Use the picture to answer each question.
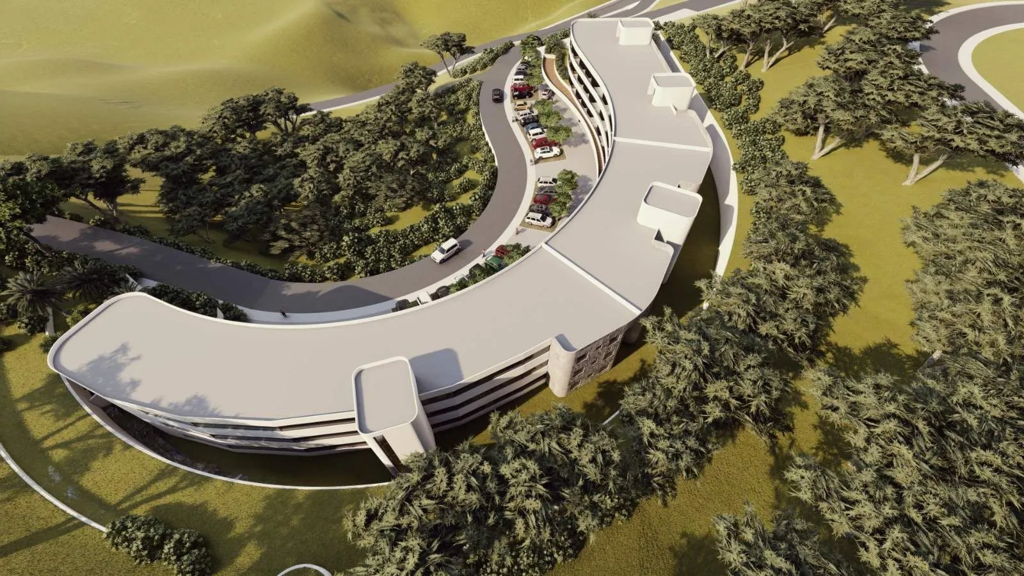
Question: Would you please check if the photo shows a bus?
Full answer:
No, this view has no bus in it.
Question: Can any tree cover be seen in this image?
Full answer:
Yes, some tree cover is visible.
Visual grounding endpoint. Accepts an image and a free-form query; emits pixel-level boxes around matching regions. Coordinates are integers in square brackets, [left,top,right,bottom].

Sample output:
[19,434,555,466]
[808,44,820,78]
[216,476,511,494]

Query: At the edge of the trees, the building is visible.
[48,17,713,479]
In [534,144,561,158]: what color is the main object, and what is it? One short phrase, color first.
white car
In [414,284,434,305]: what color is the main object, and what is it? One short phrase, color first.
white car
